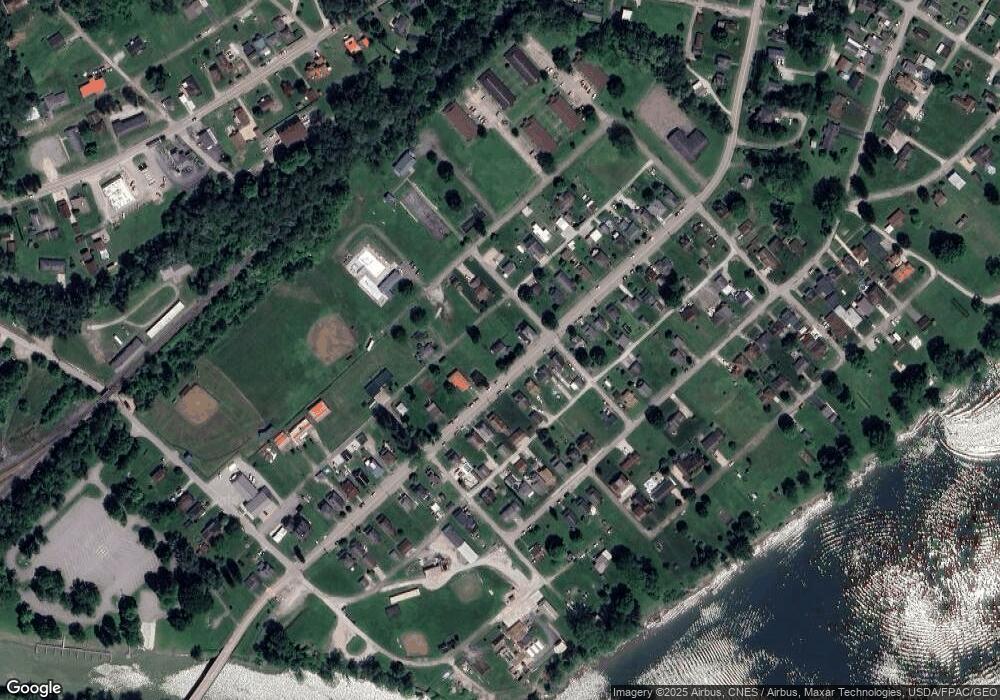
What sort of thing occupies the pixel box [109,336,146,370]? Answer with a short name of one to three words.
shed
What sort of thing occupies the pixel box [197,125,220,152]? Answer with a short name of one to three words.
house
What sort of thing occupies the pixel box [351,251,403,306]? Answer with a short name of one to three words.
building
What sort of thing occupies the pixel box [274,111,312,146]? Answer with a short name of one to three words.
barn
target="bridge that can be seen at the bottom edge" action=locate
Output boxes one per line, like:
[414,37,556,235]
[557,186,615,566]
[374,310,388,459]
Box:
[184,630,242,700]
